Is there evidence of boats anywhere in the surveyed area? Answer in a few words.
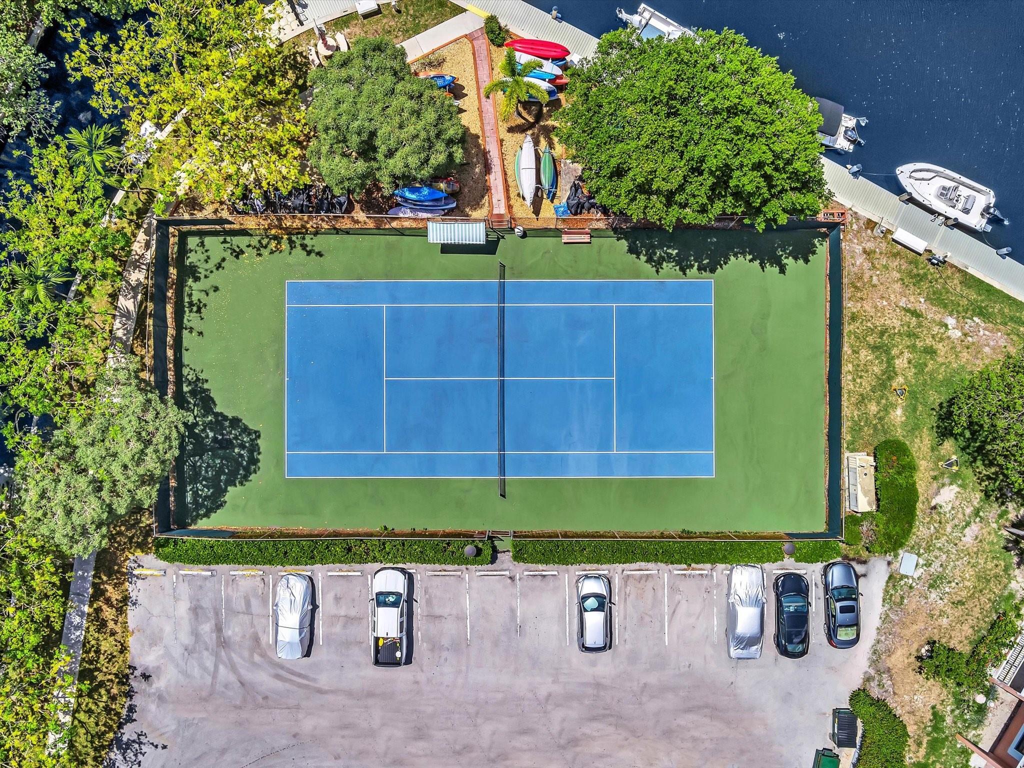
Yes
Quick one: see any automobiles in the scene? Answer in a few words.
Yes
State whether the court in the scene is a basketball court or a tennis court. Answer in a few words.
tennis court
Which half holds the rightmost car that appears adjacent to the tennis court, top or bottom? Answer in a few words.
bottom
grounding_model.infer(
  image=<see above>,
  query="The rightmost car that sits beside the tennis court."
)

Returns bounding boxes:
[818,560,863,648]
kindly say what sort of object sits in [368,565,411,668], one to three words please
truck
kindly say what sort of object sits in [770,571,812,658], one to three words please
car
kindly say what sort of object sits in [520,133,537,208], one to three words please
boat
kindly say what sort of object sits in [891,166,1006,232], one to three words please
boat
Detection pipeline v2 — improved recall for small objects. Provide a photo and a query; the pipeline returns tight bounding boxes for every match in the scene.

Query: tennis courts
[173,229,826,531]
